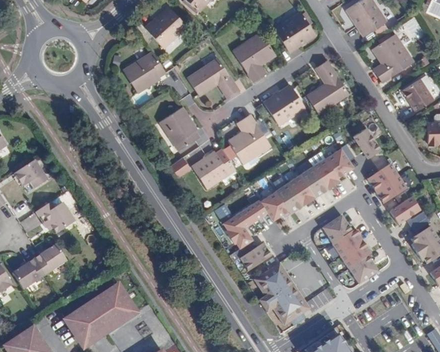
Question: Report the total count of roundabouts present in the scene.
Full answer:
I count 1 roundabout.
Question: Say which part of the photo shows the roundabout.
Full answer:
The roundabout appears toward the top left of the photo.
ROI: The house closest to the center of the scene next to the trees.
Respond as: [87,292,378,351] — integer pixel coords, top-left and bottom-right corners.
[194,144,238,190]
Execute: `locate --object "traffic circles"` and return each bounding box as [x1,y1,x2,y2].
[22,18,98,94]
